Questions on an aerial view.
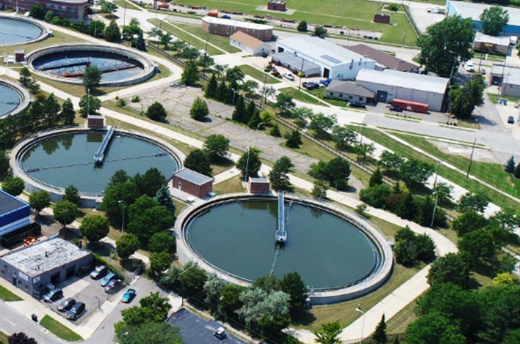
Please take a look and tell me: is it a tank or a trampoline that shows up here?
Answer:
tank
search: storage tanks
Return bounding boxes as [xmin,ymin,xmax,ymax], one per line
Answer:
[23,43,159,85]
[9,123,187,205]
[0,15,53,48]
[174,190,395,305]
[0,79,33,120]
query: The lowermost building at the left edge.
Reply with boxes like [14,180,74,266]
[3,235,93,299]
